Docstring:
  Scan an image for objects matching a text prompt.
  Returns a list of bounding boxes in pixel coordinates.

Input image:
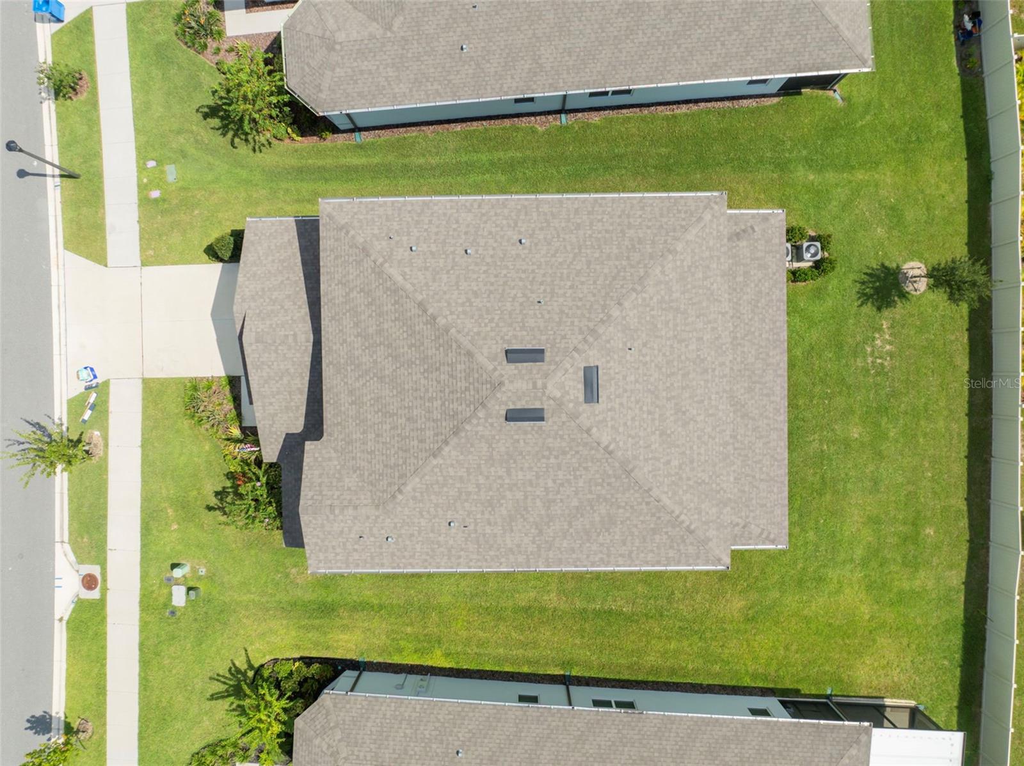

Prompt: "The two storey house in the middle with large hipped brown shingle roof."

[232,191,790,576]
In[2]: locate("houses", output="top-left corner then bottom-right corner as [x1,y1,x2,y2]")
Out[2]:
[291,667,966,766]
[277,0,876,133]
[232,191,790,576]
